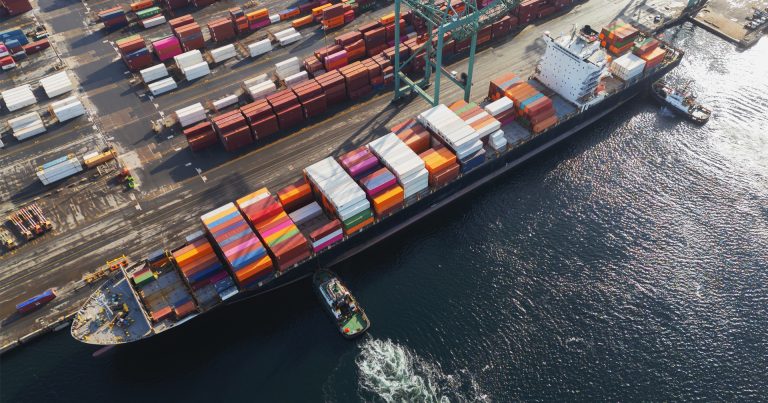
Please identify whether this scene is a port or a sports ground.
port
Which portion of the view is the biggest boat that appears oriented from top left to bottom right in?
bottom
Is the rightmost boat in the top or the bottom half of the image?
top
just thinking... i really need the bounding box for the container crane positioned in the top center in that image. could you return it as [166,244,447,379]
[392,0,527,110]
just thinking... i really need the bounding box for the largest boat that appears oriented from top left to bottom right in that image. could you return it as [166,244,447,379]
[311,269,370,339]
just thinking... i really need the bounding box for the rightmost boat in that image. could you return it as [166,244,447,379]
[648,86,712,125]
